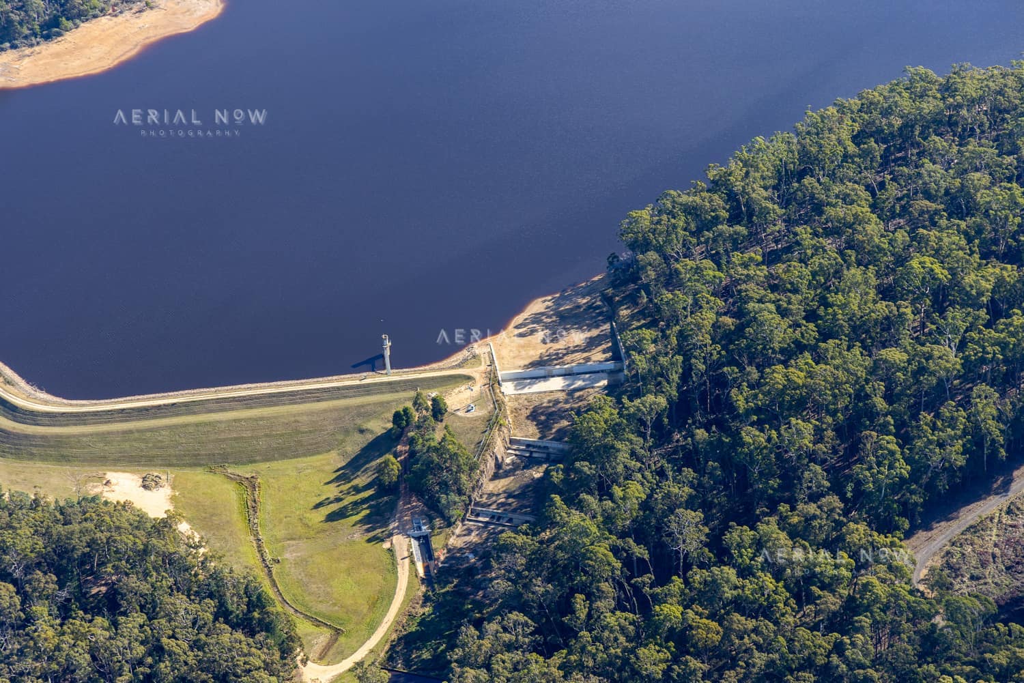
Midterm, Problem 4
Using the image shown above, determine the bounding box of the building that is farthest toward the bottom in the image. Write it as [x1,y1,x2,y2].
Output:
[405,513,434,541]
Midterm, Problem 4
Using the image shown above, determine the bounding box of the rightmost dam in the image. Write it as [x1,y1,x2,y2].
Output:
[501,362,622,386]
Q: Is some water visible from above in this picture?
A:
Yes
